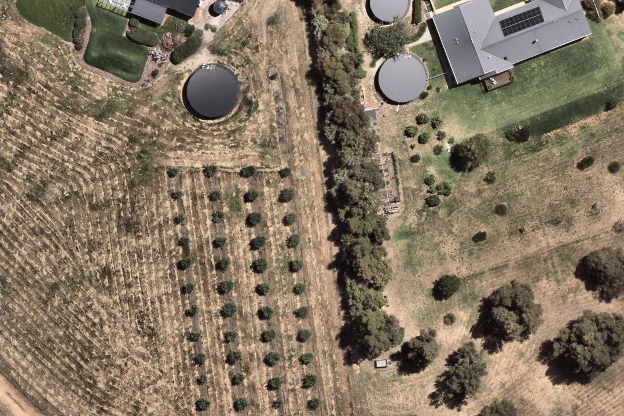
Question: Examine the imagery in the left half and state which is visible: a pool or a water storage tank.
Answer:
water storage tank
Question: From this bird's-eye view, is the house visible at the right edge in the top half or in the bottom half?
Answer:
top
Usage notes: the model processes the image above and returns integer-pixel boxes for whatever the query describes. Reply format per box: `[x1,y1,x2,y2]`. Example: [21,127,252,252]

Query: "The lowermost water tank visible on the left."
[184,63,241,119]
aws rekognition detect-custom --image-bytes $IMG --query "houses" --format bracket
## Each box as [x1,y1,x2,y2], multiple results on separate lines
[433,0,594,84]
[130,0,199,24]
